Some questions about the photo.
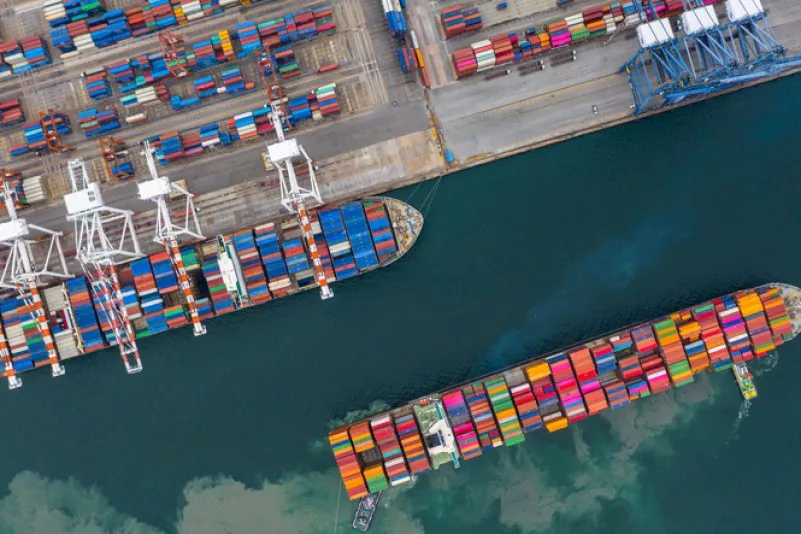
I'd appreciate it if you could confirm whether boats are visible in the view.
Yes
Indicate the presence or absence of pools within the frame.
No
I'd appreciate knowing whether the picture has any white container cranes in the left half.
Yes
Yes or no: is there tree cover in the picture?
No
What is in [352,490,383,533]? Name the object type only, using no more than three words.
boat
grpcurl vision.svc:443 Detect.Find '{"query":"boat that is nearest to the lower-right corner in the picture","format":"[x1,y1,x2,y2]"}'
[733,363,757,401]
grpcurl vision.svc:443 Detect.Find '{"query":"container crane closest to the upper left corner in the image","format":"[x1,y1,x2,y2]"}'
[41,109,86,159]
